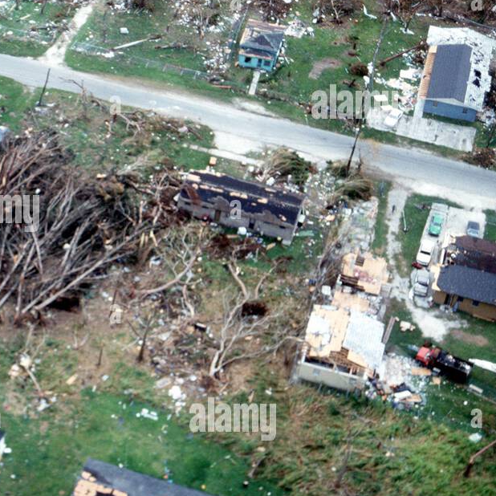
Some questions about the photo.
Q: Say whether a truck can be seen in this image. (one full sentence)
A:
Yes, a truck appears in the view.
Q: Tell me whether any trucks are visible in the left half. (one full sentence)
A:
No, no truck appears in the left half.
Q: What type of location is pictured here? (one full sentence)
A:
What you see here is a residential area.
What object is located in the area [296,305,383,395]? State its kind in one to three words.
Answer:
house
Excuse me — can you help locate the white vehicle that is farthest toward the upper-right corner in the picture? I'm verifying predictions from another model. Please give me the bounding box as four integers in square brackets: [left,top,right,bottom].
[383,109,407,128]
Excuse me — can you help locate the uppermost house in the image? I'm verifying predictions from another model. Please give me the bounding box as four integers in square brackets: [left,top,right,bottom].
[236,19,285,71]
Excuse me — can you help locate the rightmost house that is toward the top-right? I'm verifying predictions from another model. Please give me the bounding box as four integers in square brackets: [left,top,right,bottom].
[417,27,496,126]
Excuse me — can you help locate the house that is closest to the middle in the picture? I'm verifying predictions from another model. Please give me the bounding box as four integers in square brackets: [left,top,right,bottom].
[177,169,305,239]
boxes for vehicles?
[427,210,445,237]
[383,109,407,128]
[412,351,481,395]
[418,238,436,267]
[465,216,482,240]
[411,270,431,300]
